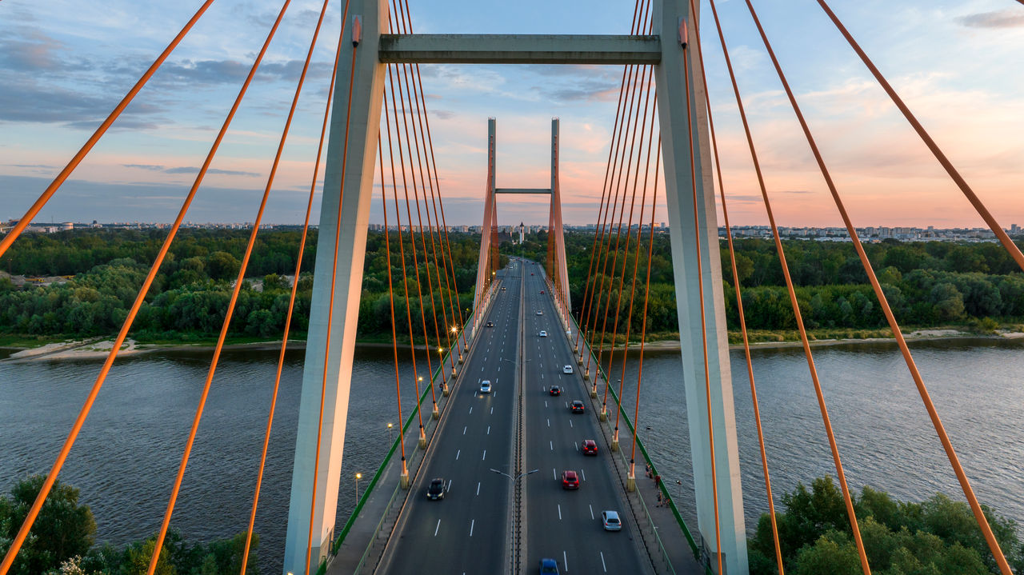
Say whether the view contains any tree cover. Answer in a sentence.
Yes, some tree cover is visible.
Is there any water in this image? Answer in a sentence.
Yes, the picture does contain water.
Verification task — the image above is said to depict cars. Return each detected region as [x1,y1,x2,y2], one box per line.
[569,400,582,412]
[539,330,547,336]
[549,384,559,394]
[563,364,572,373]
[560,468,577,487]
[480,378,491,391]
[580,438,596,454]
[599,509,620,529]
[487,321,493,327]
[537,555,559,575]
